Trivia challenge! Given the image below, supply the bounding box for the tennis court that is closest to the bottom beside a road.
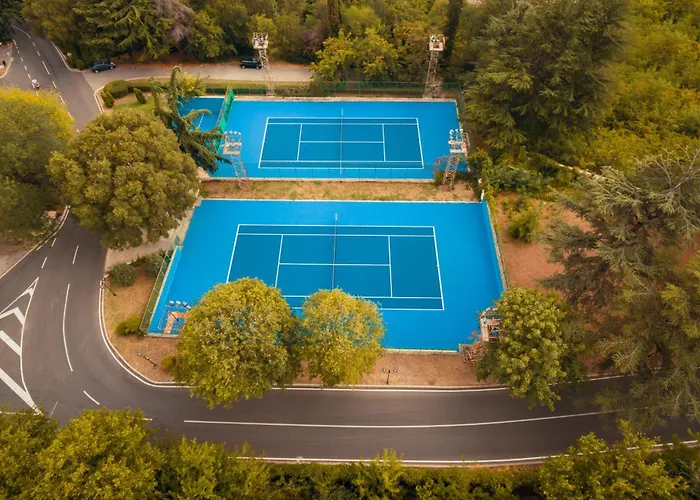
[152,199,500,351]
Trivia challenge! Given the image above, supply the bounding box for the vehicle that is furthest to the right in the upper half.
[238,54,263,67]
